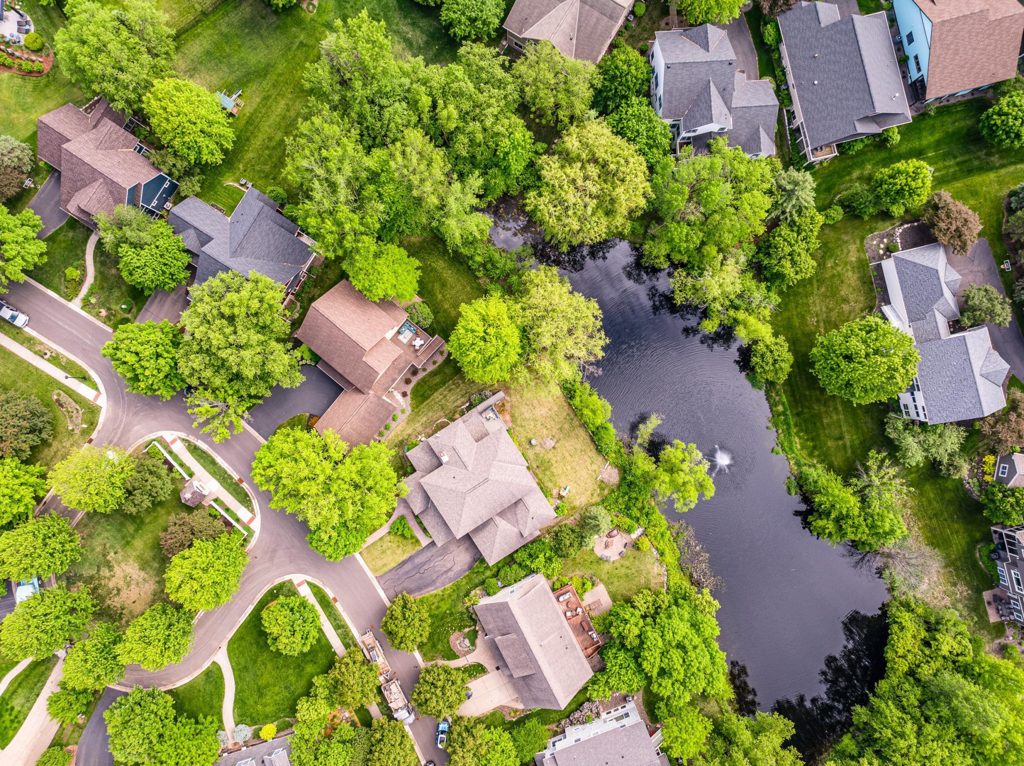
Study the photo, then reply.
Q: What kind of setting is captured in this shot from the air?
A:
residential area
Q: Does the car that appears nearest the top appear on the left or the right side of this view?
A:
left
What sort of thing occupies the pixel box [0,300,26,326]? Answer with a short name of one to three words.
car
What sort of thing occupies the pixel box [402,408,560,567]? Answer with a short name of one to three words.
house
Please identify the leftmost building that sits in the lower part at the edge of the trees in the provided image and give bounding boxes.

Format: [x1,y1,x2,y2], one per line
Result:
[181,476,218,508]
